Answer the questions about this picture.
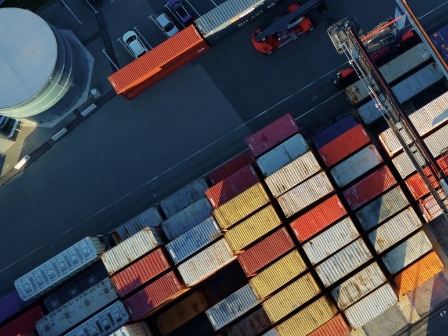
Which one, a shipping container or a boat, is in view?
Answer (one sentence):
I can see a shipping container in this picture.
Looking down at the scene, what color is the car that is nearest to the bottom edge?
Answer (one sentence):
From above, the car that is nearest to the bottom edge appears blue.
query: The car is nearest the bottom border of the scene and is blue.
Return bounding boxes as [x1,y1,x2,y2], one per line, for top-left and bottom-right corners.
[123,30,149,59]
